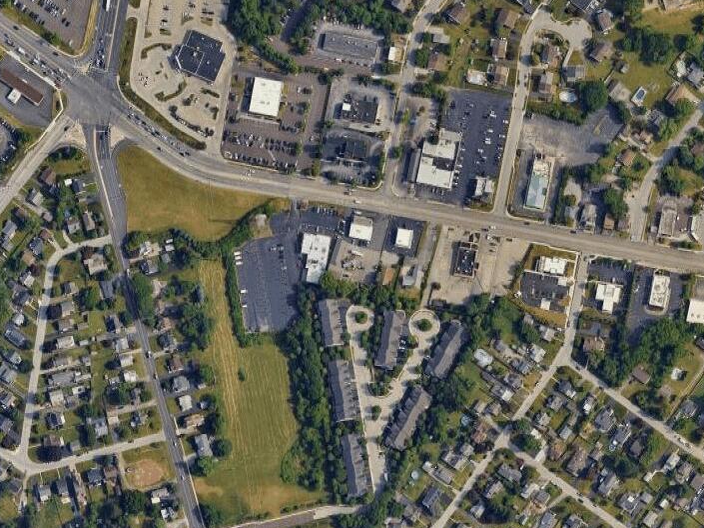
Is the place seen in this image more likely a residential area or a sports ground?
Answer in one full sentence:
This looks like a residential area.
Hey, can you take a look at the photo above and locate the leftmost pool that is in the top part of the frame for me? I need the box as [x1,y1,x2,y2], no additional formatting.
[559,88,577,104]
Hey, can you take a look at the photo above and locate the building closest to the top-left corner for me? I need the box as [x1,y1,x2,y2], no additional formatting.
[0,66,43,106]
